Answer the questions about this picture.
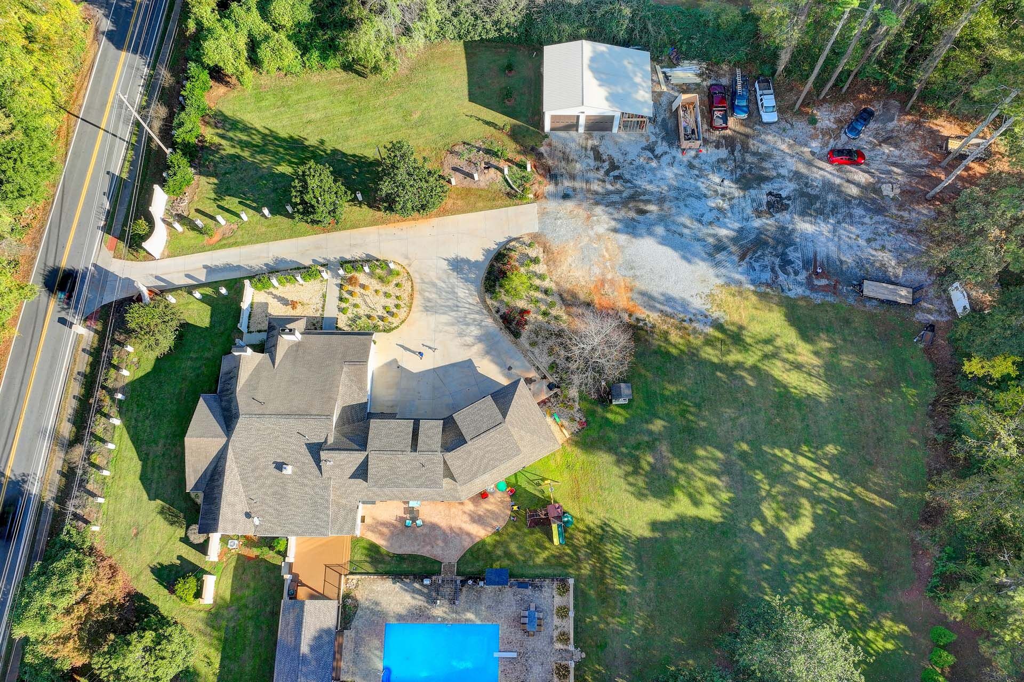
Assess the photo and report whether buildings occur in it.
Yes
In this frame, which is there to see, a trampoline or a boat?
boat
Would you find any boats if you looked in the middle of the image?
No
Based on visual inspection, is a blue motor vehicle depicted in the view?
Yes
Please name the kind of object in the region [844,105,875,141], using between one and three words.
car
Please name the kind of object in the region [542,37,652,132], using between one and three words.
building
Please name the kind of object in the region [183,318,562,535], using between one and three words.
house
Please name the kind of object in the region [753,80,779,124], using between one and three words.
truck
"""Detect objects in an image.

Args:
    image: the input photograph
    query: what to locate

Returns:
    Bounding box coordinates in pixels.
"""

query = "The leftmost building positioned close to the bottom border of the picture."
[273,601,343,682]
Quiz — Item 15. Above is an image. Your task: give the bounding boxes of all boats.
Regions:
[945,281,973,316]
